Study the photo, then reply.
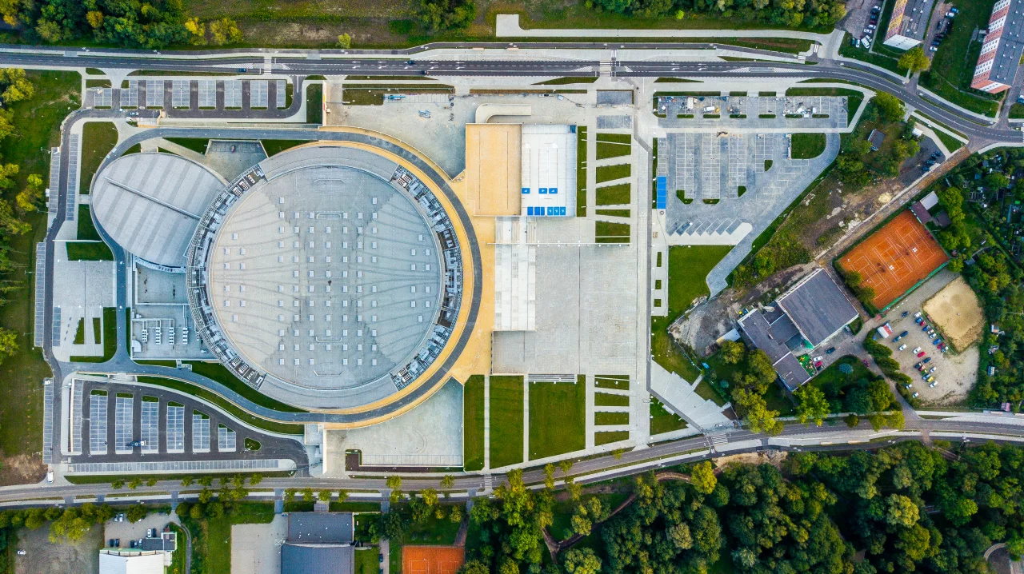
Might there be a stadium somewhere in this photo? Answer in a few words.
Yes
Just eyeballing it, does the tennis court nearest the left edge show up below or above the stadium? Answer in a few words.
below it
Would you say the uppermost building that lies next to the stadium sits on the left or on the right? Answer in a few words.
left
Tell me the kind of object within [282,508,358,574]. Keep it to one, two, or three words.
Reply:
building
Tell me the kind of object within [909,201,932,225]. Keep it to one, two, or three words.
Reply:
building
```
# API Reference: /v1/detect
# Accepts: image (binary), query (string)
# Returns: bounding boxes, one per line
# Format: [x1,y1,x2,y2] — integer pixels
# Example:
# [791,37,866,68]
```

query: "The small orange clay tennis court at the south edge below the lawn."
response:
[402,544,465,574]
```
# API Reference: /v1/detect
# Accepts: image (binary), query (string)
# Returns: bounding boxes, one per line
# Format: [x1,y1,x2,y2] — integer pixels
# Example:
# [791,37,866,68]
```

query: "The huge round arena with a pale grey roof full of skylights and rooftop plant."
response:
[187,147,464,409]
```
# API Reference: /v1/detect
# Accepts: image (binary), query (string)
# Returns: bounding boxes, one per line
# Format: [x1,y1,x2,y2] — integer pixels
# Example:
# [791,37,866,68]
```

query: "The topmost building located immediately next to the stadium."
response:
[92,151,226,276]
